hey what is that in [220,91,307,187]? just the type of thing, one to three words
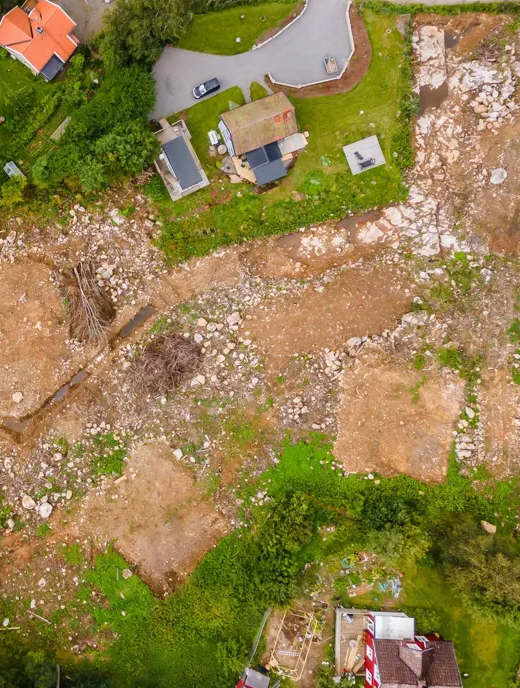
house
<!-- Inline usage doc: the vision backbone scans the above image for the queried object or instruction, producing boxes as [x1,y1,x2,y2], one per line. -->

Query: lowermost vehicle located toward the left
[192,76,223,98]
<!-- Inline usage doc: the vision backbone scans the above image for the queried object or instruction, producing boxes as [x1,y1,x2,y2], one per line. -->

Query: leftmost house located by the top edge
[0,0,80,84]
